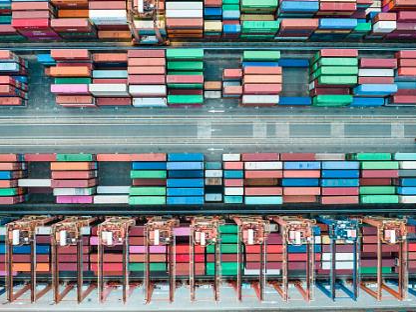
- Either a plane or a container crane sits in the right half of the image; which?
container crane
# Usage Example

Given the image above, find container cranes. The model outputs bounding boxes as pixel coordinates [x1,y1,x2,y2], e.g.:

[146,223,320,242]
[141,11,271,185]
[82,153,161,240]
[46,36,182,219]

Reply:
[145,213,186,304]
[348,213,412,304]
[186,213,226,304]
[7,213,65,304]
[127,0,171,46]
[226,213,273,304]
[99,213,145,304]
[53,213,106,304]
[267,213,319,304]
[310,213,366,307]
